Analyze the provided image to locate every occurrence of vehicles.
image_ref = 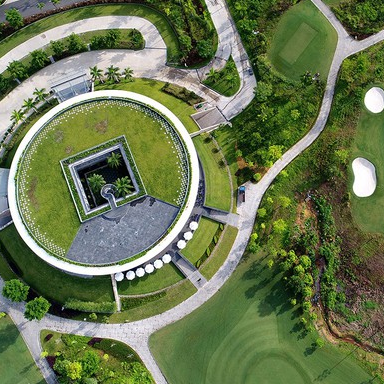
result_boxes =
[248,69,254,77]
[239,185,246,201]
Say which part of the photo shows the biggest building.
left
